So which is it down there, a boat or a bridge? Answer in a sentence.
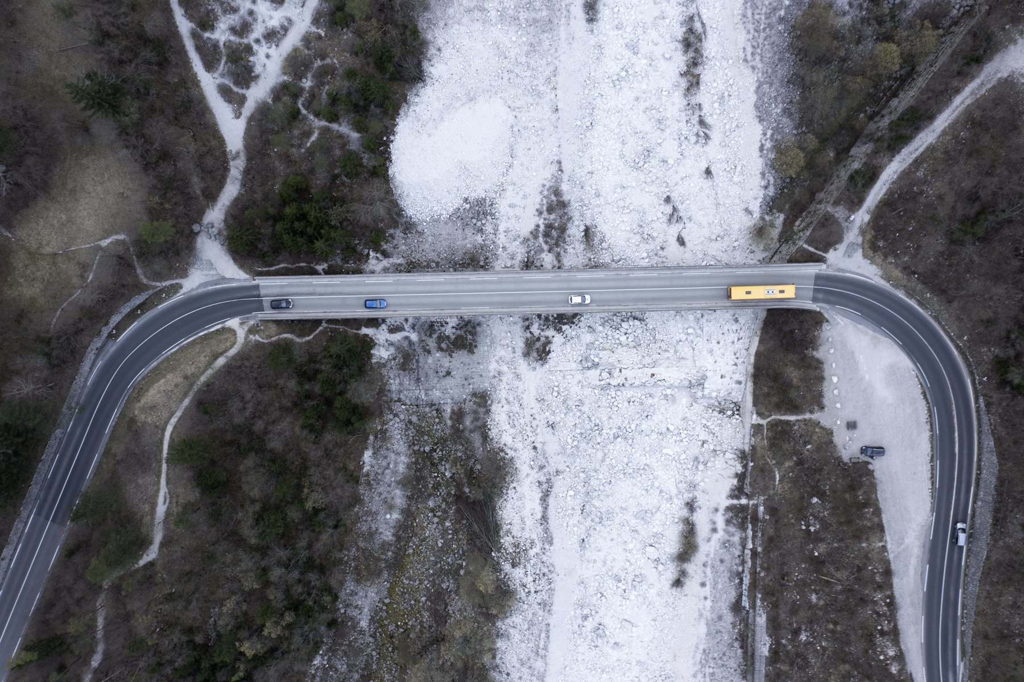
The image shows a bridge.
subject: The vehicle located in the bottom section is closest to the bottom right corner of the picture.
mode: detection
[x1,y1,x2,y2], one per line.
[950,522,966,547]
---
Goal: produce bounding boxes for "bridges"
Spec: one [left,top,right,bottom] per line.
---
[255,263,822,319]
